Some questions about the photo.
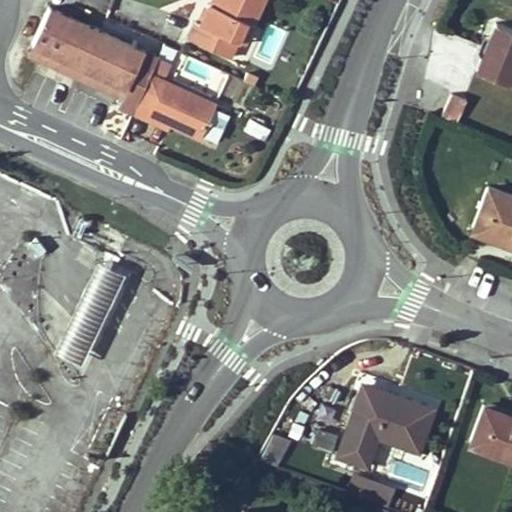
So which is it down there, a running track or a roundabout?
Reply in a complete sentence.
The image shows a roundabout.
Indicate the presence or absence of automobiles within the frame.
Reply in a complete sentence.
Yes, there's an automobile here.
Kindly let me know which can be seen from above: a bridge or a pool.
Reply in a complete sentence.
I can see a pool in this picture.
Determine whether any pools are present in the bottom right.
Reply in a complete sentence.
Yes, I can see a pool in the bottom right.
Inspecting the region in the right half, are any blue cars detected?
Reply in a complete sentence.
No, no blue car is visible in the right half.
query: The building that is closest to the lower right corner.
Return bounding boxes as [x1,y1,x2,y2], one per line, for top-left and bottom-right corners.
[466,404,512,468]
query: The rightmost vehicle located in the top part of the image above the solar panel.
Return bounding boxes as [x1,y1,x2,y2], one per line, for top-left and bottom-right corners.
[164,13,186,29]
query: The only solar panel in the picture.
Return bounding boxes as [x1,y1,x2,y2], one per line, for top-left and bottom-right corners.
[150,110,194,135]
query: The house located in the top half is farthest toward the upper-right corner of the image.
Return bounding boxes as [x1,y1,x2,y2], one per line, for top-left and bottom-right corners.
[476,24,512,90]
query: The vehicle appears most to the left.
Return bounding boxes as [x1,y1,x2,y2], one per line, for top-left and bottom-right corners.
[22,15,37,37]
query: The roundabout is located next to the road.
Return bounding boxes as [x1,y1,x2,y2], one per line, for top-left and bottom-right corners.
[230,180,382,336]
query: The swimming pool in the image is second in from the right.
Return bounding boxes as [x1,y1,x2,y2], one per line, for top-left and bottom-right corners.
[245,22,291,72]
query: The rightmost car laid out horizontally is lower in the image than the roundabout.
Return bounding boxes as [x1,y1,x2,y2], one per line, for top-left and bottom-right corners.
[360,356,382,368]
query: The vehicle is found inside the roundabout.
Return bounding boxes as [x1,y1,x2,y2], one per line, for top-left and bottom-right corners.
[251,270,268,292]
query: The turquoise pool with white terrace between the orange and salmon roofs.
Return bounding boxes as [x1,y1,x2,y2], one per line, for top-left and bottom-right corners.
[176,56,230,99]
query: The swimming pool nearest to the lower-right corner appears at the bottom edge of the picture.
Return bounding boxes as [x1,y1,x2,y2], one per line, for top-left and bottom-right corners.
[385,448,442,502]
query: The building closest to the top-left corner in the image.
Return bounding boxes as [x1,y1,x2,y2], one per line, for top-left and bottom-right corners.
[28,8,147,98]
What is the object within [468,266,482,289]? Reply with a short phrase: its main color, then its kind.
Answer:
white vehicle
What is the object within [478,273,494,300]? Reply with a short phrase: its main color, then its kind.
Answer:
white vehicle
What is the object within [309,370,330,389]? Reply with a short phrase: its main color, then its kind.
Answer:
white car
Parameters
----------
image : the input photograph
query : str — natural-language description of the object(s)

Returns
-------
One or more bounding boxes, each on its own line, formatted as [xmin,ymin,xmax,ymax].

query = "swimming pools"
[176,56,230,99]
[385,448,442,502]
[245,22,291,72]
